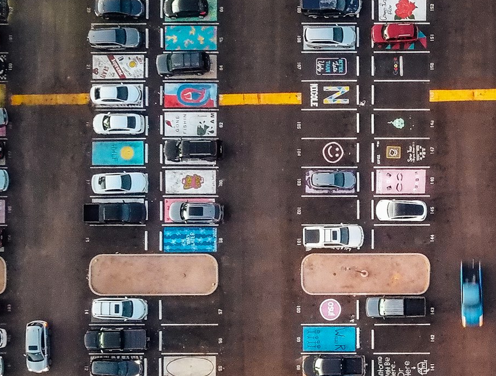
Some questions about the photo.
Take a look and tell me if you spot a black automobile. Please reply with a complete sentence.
Yes, the photo shows a black automobile.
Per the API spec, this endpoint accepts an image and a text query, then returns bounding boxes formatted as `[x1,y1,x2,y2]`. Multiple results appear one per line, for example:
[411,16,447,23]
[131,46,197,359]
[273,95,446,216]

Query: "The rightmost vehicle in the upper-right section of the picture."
[371,18,418,44]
